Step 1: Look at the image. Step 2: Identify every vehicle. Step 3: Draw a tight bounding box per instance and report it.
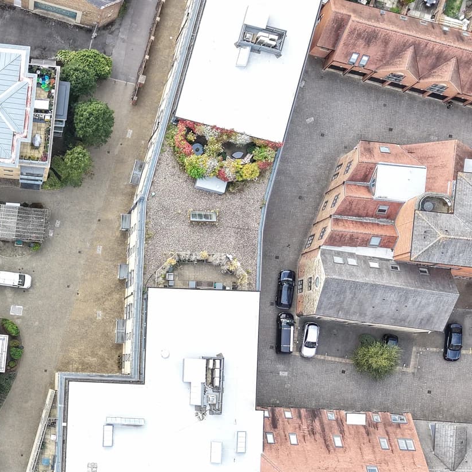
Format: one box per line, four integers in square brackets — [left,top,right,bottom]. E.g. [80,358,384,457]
[299,321,322,358]
[276,269,299,309]
[382,331,402,366]
[0,270,33,289]
[275,312,298,354]
[442,322,466,364]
